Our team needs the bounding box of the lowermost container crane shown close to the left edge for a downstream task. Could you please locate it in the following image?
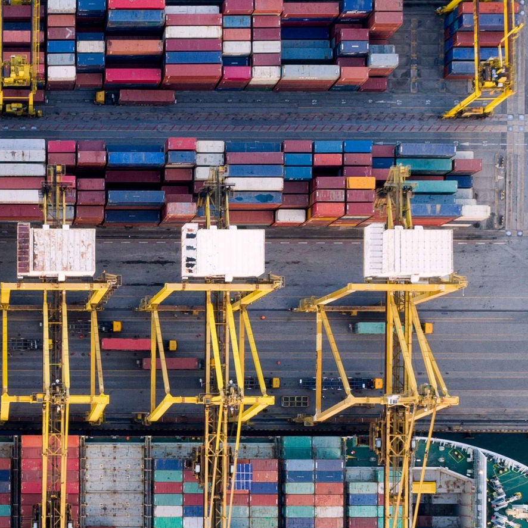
[0,161,120,528]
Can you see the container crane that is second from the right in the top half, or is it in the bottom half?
bottom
